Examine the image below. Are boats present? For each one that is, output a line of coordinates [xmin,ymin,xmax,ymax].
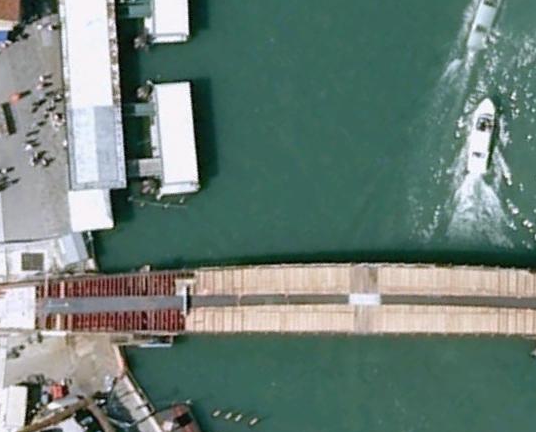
[466,99,495,174]
[466,0,502,52]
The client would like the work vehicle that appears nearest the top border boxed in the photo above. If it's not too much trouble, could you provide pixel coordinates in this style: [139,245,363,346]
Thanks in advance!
[34,385,59,403]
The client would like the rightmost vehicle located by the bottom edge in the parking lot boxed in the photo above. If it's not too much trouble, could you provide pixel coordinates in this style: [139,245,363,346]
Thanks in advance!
[77,409,101,432]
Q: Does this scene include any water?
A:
Yes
